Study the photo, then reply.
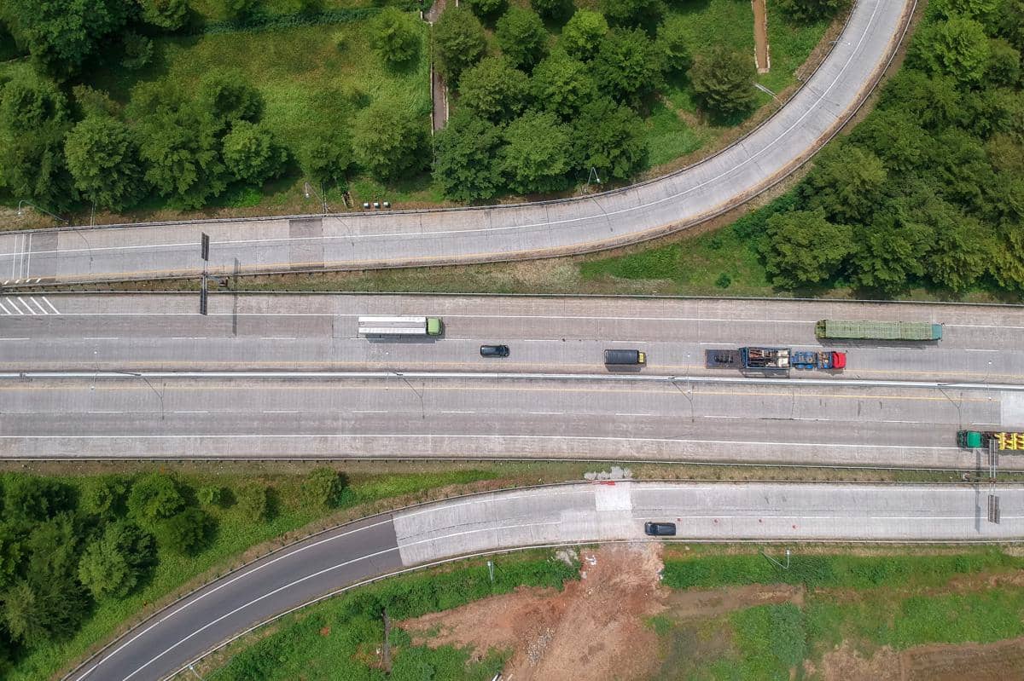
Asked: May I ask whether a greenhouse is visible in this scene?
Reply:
No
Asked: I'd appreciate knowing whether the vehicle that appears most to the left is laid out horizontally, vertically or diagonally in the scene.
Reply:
horizontally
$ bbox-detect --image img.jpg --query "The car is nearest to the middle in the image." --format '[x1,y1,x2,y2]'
[479,345,509,357]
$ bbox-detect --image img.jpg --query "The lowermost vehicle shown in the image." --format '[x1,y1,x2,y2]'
[644,522,677,538]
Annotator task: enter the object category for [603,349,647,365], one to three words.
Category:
vehicle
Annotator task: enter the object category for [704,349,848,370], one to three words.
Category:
truck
